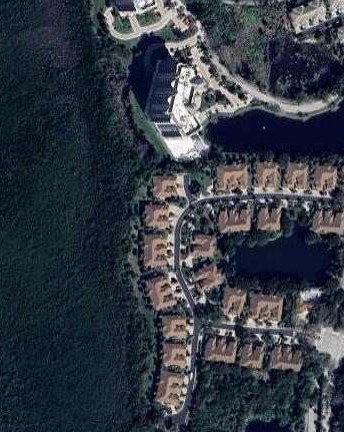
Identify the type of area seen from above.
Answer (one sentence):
The area seen from above is a residential area.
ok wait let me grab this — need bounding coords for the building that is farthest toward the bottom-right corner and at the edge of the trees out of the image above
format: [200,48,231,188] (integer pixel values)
[268,346,302,370]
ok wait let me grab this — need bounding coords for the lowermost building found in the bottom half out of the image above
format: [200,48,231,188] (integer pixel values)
[155,368,186,403]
